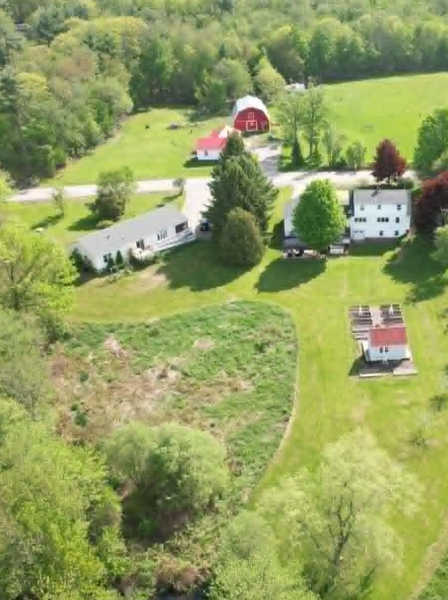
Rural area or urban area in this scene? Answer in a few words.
rural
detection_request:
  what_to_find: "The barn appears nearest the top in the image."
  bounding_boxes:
[233,94,271,130]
